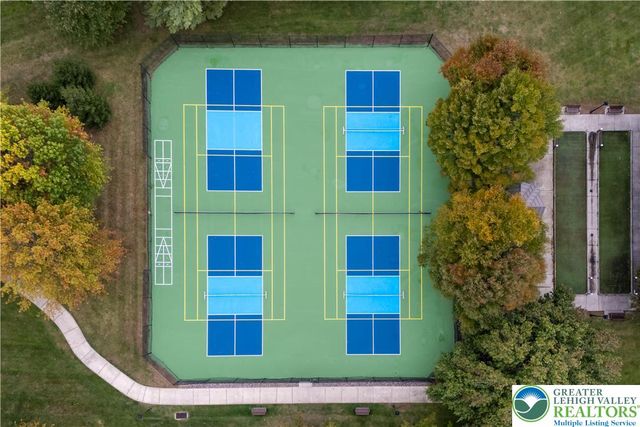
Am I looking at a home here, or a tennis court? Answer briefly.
tennis court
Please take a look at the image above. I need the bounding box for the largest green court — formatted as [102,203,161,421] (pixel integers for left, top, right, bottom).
[148,43,458,383]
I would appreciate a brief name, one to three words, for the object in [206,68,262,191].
sports court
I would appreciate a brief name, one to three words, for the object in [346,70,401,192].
sports court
